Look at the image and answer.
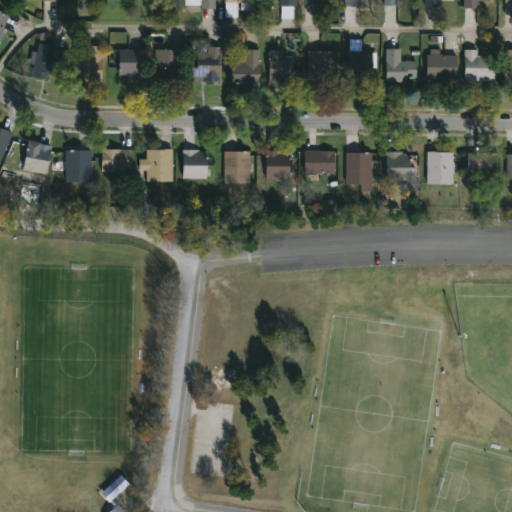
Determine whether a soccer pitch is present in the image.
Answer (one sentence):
Yes, I can see a soccer pitch in this picture.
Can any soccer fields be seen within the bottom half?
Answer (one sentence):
Yes, within the bottom half there is a soccer field.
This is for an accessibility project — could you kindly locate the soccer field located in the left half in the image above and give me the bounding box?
[19,264,134,455]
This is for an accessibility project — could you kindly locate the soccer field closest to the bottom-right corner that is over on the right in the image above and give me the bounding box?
[434,442,512,512]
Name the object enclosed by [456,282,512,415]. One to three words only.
sports field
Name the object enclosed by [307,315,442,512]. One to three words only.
soccer field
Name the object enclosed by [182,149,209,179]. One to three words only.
house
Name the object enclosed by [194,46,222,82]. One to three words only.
house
